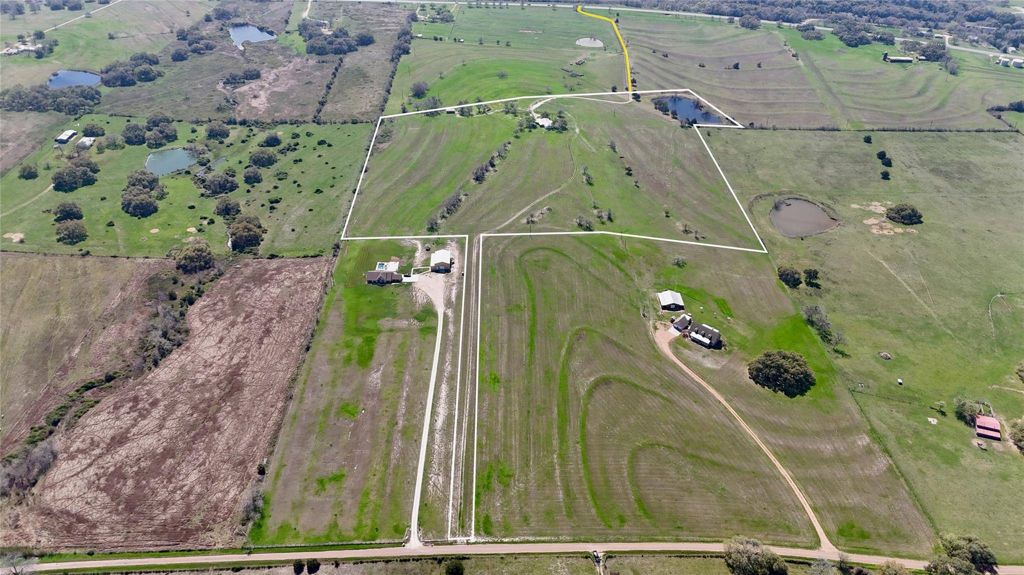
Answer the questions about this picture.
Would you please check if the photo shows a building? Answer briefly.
Yes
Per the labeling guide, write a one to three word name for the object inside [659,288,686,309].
building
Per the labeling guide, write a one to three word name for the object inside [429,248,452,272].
building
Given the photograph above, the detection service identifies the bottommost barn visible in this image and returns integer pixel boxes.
[970,410,1004,441]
